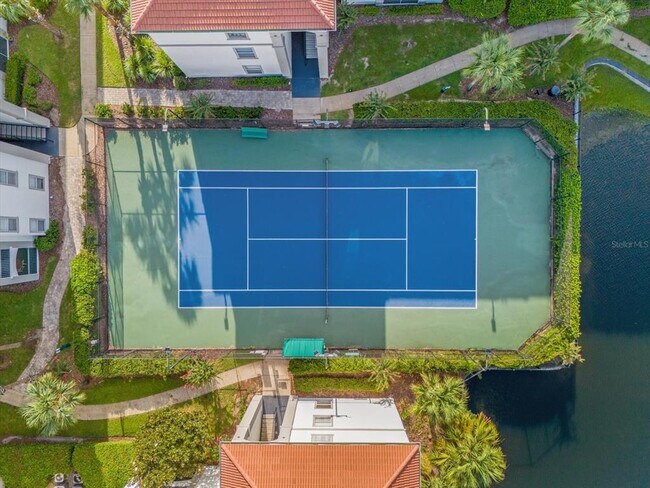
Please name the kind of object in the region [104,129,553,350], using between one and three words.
tennis court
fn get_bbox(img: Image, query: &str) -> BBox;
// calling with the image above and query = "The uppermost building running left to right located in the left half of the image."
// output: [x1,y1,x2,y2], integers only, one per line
[130,0,341,97]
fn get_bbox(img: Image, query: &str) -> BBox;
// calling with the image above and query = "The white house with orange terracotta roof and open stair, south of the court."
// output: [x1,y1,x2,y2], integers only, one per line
[218,395,422,488]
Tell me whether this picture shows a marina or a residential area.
residential area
